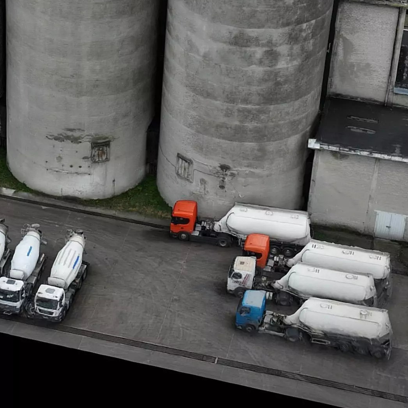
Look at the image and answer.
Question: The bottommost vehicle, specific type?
truck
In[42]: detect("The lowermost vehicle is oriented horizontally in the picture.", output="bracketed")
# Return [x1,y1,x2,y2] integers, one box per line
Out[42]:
[231,287,392,358]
